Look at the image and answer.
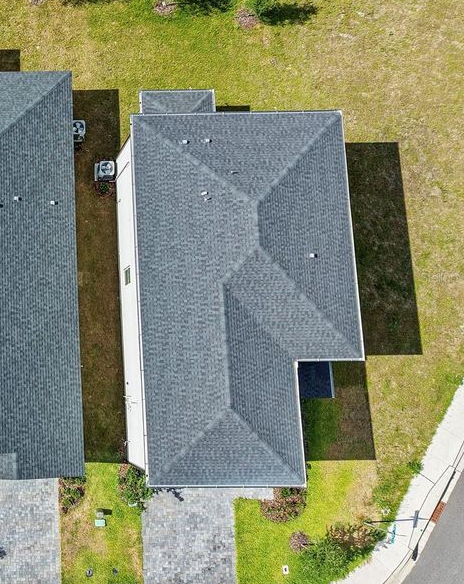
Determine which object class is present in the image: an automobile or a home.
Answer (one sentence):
The image shows a home.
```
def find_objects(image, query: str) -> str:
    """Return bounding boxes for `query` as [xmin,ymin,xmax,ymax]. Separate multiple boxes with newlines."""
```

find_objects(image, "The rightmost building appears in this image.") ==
[117,88,366,489]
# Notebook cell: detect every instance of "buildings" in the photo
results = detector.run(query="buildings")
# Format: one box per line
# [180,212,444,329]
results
[0,71,84,481]
[117,88,366,489]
